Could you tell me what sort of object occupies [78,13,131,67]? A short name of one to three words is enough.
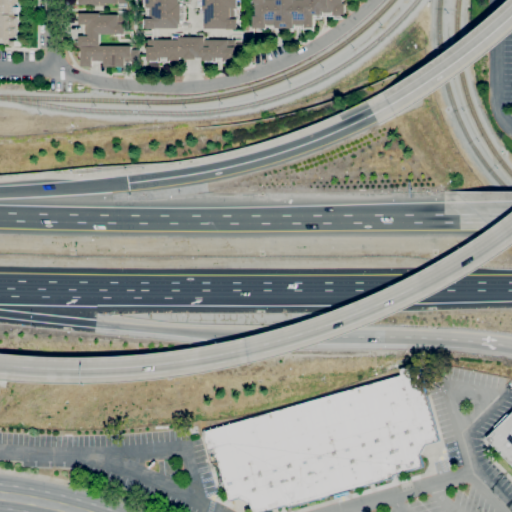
house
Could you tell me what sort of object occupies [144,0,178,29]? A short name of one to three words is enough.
house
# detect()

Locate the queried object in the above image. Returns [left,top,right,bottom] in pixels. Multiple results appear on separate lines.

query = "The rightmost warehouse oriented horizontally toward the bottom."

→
[203,371,438,512]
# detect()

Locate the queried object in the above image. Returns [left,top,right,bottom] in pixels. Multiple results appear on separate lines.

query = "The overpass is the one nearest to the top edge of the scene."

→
[366,0,512,126]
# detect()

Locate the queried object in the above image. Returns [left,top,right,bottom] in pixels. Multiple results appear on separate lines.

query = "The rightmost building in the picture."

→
[484,408,512,464]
